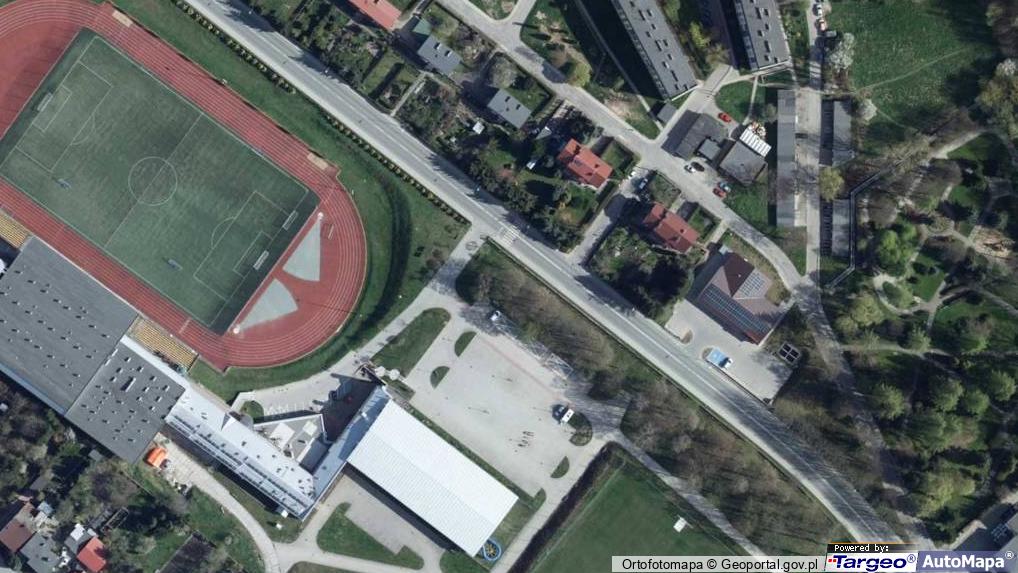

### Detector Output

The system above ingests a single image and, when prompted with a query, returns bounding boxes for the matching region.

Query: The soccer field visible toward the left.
[0,25,322,338]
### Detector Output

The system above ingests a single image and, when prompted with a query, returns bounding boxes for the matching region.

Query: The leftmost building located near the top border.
[347,0,404,31]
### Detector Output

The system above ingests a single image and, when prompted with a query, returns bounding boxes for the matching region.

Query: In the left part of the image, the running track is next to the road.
[0,0,367,373]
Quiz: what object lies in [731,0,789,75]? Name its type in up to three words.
building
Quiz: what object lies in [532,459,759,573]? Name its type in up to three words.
sports field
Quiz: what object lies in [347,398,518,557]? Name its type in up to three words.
building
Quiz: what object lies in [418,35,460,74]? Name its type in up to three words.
house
